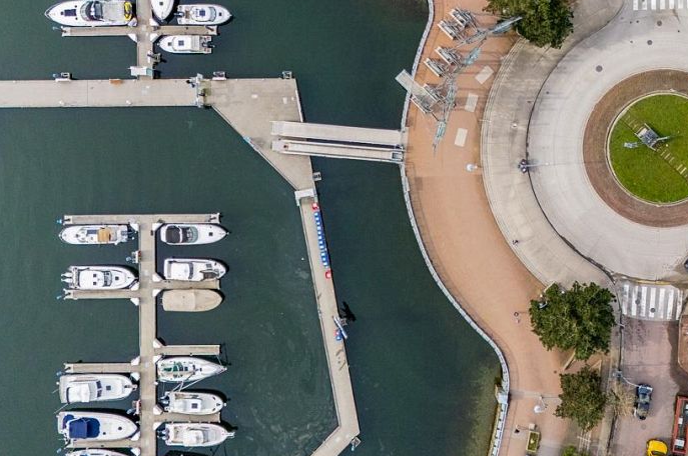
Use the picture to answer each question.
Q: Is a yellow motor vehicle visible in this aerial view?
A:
Yes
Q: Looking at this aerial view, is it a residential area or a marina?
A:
marina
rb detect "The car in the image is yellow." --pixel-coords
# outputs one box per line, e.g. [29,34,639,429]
[646,440,667,456]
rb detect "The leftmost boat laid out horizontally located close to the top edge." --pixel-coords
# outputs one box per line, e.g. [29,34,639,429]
[44,0,137,28]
